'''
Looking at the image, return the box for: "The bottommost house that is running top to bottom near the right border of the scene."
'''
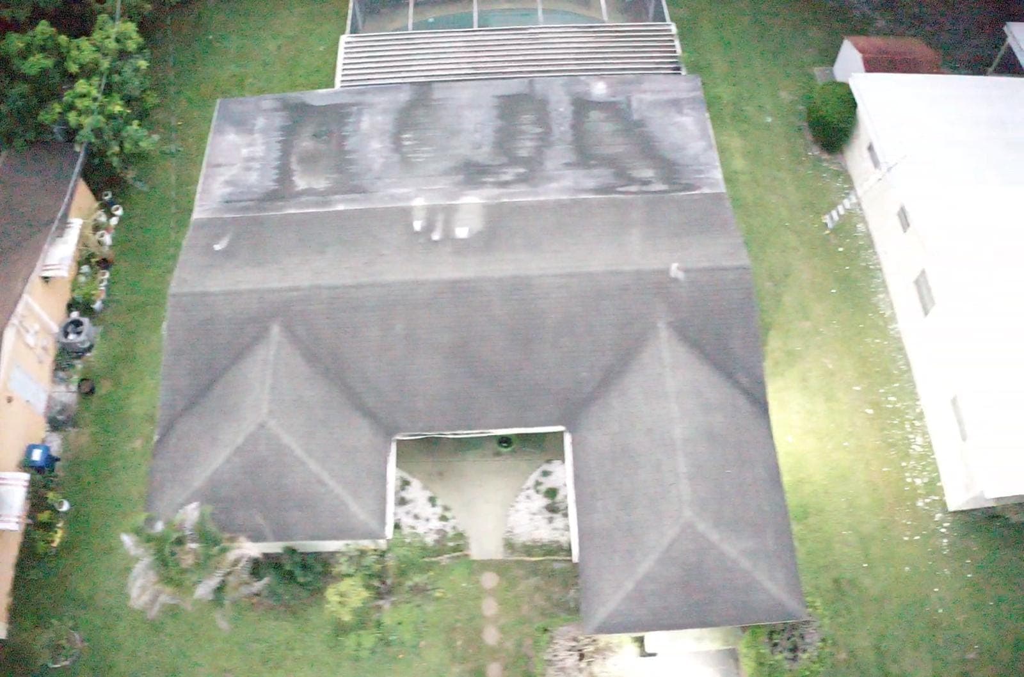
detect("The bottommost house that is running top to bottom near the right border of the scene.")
[842,64,1024,513]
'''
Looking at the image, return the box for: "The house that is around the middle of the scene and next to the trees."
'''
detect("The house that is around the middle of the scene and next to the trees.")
[147,75,808,637]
